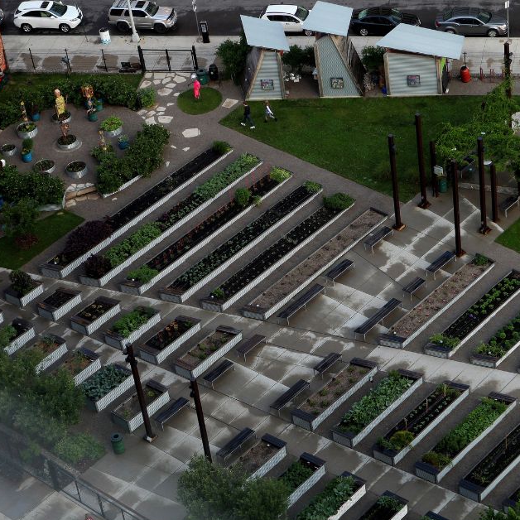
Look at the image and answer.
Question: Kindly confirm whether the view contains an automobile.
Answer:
Yes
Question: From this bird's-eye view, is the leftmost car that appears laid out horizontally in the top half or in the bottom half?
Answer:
top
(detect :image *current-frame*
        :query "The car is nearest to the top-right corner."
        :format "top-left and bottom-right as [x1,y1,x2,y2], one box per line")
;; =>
[436,2,510,33]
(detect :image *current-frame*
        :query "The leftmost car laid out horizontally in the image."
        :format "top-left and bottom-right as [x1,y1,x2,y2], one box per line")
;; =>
[11,0,83,31]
